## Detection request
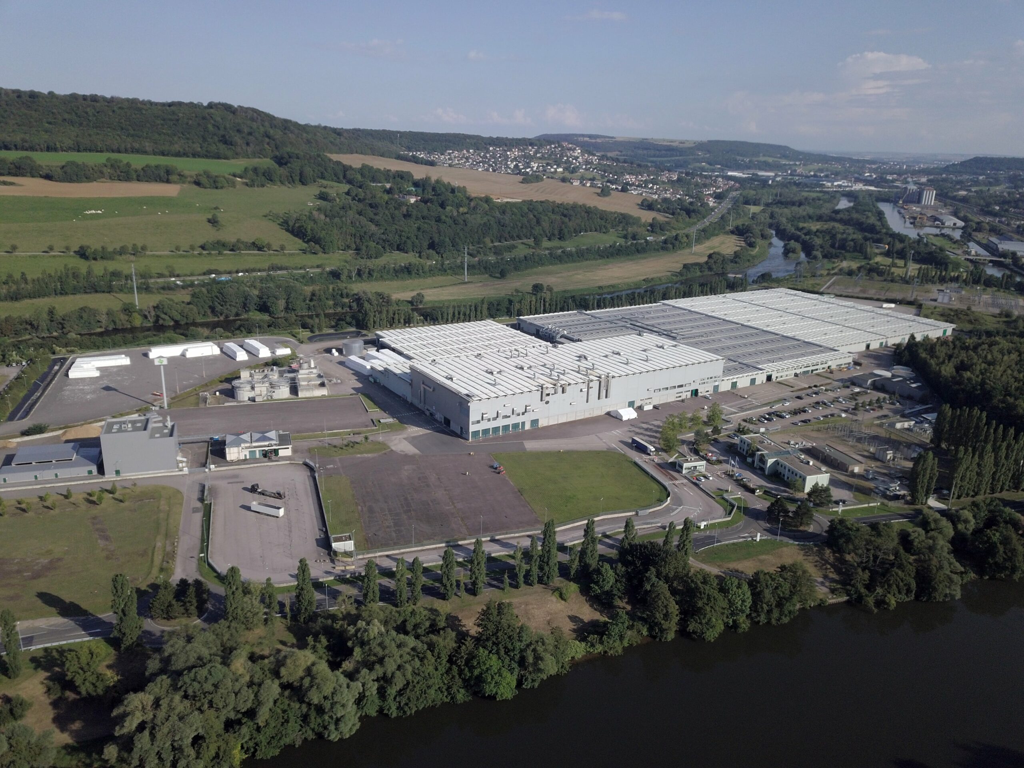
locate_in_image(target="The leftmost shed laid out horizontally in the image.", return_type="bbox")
[0,446,102,483]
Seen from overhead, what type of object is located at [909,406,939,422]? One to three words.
shed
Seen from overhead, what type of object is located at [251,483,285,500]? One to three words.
vehicle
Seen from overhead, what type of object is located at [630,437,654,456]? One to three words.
vehicle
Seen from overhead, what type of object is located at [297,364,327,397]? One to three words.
building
